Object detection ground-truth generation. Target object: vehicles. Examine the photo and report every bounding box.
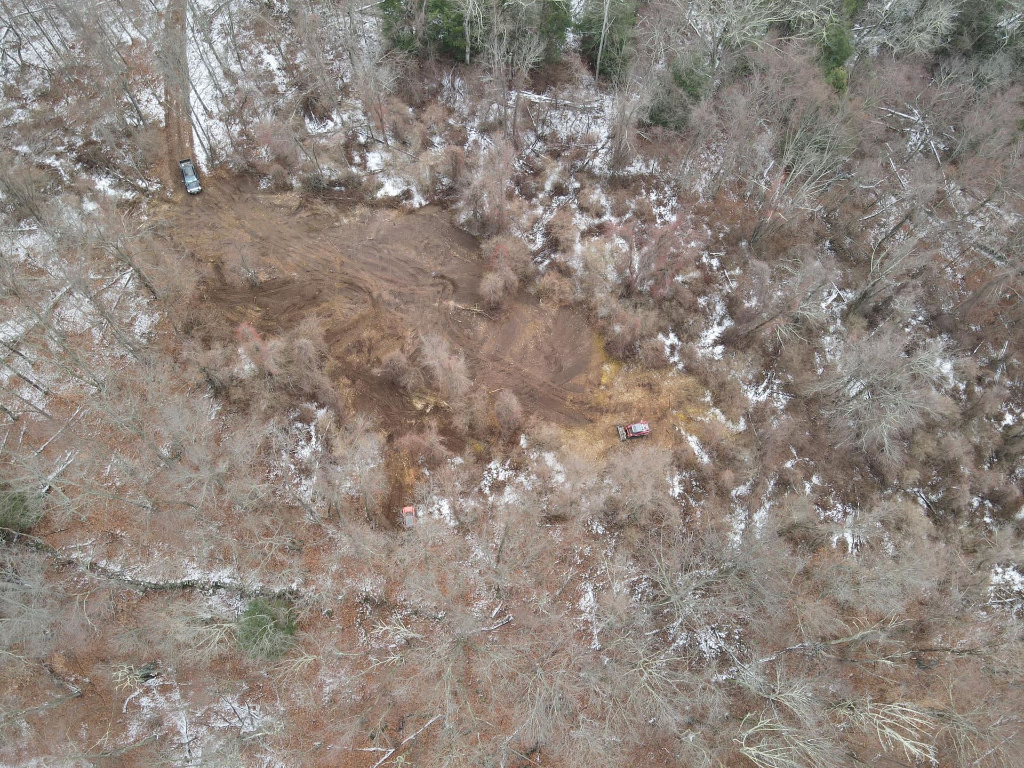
[616,421,649,443]
[401,504,418,528]
[176,155,202,196]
